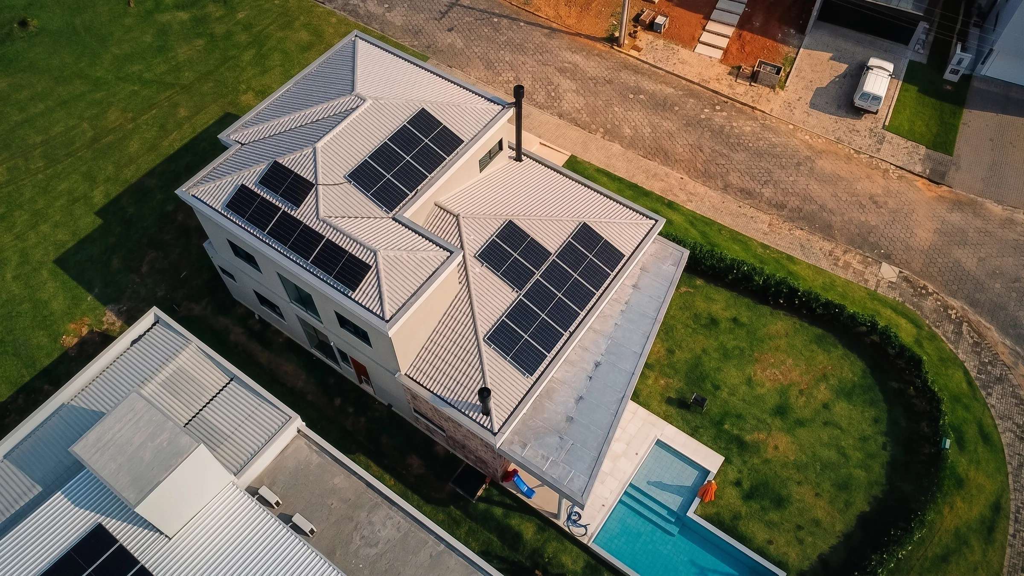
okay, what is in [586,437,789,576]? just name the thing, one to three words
swimming pool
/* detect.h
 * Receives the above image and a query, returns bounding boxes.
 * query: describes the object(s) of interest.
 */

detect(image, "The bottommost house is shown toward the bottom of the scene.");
[0,305,507,576]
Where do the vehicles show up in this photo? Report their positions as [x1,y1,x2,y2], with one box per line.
[850,59,900,118]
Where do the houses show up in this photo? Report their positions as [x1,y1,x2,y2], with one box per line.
[0,305,507,576]
[801,0,943,48]
[974,0,1024,87]
[174,29,690,522]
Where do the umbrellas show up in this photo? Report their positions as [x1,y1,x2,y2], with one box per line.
[695,476,720,504]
